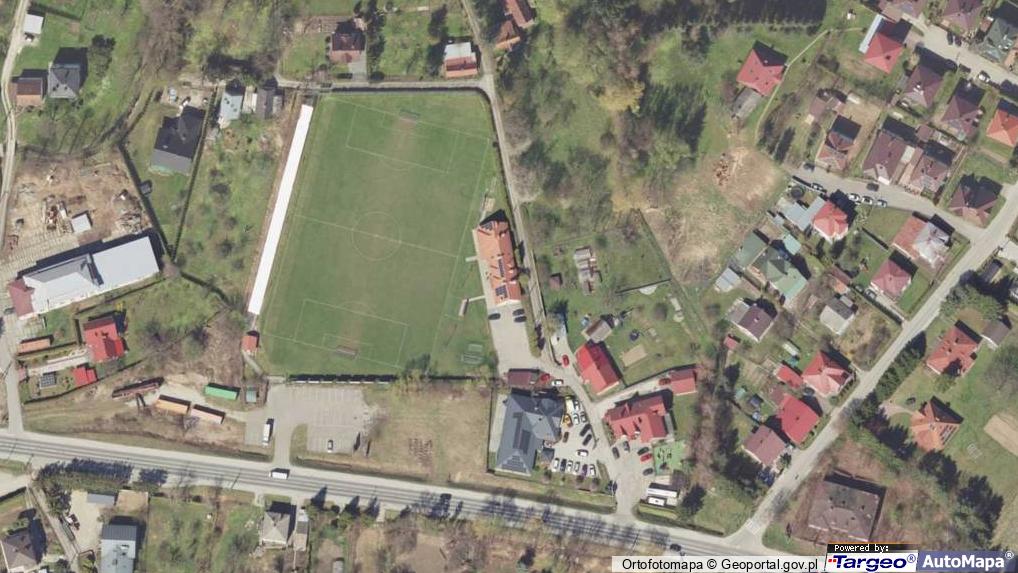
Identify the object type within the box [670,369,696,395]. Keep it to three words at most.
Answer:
building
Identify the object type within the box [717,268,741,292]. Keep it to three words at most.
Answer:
shed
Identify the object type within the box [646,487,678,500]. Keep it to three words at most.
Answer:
vehicle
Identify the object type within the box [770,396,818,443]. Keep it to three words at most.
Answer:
house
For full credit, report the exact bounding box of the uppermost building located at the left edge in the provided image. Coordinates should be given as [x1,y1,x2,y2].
[24,14,44,35]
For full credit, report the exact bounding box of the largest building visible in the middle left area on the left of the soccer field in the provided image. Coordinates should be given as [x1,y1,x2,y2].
[8,238,158,317]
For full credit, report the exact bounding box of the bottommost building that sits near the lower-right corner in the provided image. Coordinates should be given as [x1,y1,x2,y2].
[810,478,880,543]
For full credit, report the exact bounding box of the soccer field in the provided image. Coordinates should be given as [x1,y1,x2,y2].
[257,93,495,383]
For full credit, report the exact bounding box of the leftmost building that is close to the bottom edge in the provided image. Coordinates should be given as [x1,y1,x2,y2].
[2,531,40,571]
